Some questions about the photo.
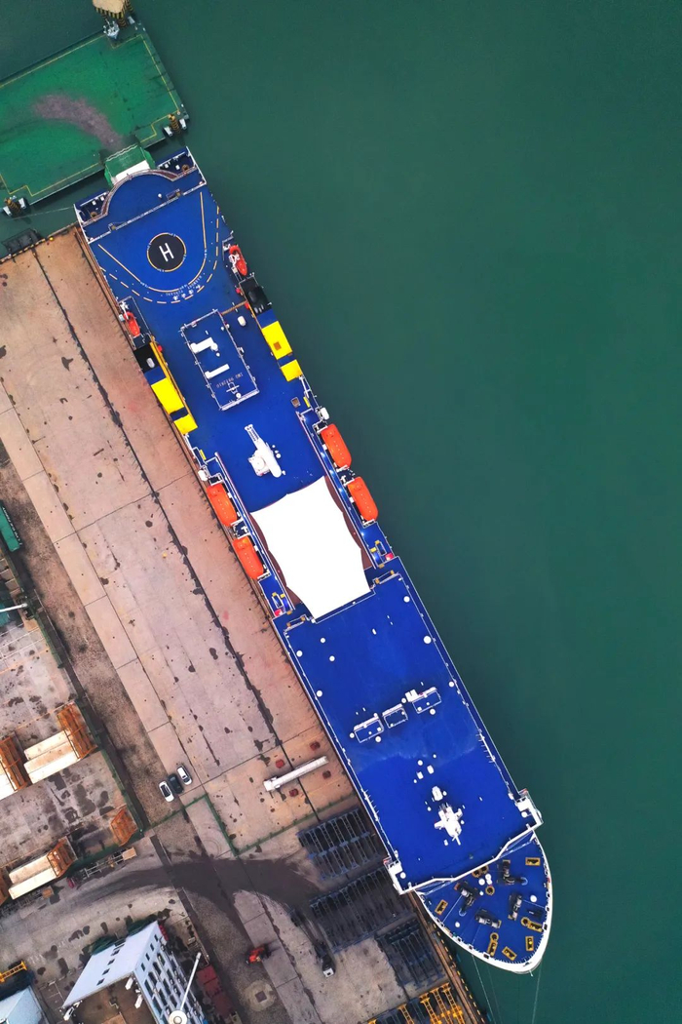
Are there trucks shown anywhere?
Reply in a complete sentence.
Yes, a truck appears in the view.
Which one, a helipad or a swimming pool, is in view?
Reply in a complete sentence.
The image shows a helipad.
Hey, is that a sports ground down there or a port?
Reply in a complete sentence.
The picture captures a port.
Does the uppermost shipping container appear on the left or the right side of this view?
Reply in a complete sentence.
The uppermost shipping container appears in the left half of the scene.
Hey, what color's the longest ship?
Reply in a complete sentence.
The longest ship looks blue in the image.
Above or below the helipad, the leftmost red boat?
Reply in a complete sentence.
From this view, the leftmost red boat can be seen below the helipad.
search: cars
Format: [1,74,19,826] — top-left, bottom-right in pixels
[176,766,191,787]
[167,774,182,795]
[158,782,173,803]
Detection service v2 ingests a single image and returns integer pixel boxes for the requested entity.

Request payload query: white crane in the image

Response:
[245,422,281,478]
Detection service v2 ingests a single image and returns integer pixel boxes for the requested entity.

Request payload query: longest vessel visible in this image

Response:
[71,144,554,976]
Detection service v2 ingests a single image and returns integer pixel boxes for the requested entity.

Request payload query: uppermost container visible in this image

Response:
[0,502,28,556]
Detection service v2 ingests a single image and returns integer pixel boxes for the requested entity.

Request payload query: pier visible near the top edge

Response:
[0,13,189,208]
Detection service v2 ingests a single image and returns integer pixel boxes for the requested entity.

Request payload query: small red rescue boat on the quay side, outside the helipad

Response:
[121,311,141,339]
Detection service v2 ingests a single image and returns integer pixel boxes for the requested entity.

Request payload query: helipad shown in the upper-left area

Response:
[92,186,219,303]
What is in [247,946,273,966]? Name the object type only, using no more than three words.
work vehicle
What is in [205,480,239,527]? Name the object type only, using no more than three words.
boat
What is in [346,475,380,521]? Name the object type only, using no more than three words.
boat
